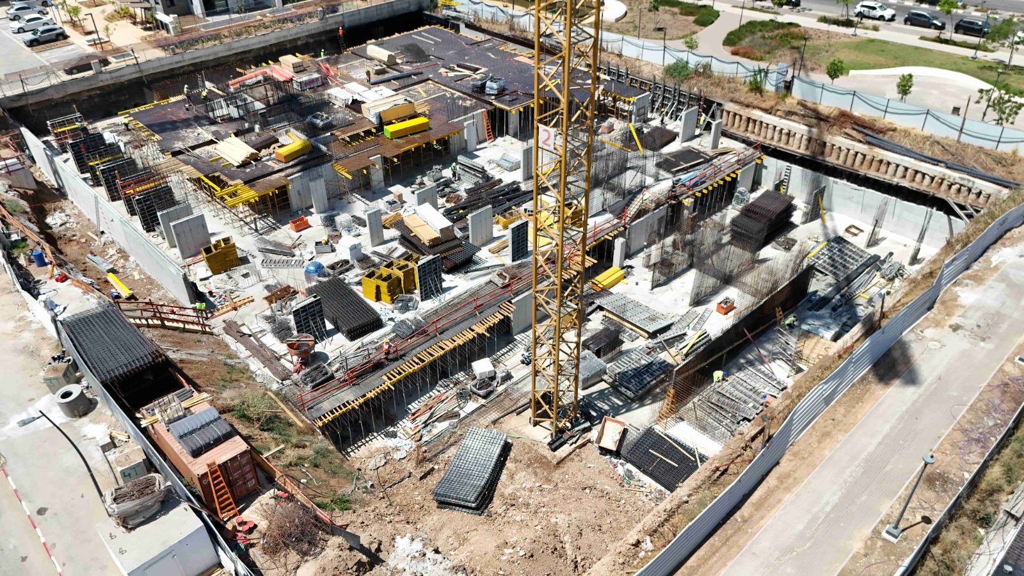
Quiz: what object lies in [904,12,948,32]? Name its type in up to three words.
car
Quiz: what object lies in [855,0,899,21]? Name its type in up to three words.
car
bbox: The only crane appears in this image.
[528,0,604,444]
